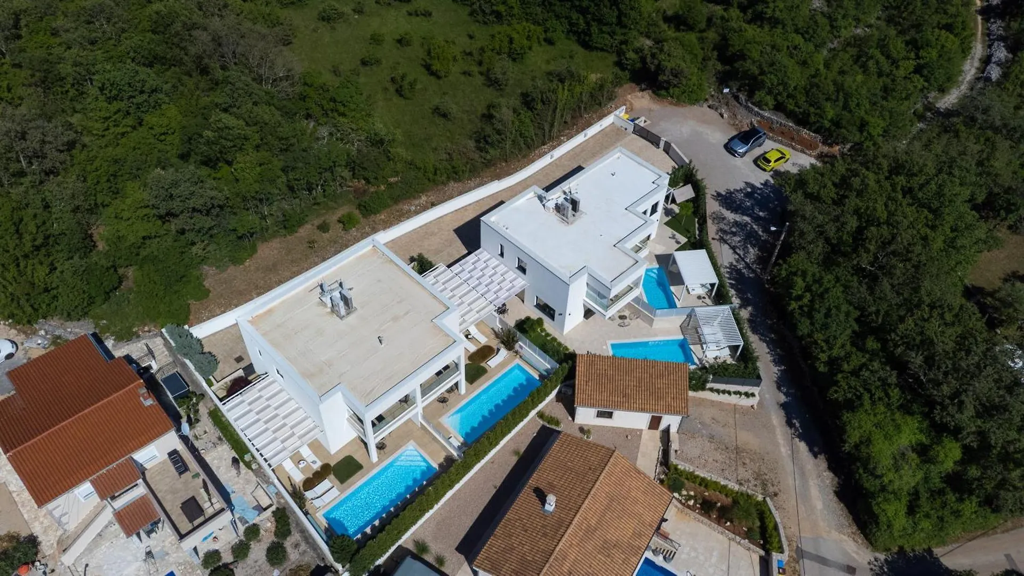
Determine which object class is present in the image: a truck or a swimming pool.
swimming pool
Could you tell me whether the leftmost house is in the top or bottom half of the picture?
bottom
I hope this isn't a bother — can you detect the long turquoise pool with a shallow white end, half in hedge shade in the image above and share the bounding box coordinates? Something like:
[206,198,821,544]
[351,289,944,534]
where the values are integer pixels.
[436,356,540,448]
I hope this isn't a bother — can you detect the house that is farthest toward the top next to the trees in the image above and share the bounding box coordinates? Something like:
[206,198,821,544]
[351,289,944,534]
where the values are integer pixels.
[481,146,669,335]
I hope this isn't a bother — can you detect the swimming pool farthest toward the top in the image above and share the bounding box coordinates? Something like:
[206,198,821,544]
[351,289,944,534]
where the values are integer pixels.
[638,263,680,312]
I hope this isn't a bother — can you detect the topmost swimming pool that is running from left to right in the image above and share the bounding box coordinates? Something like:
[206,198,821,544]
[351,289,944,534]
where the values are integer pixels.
[606,334,698,368]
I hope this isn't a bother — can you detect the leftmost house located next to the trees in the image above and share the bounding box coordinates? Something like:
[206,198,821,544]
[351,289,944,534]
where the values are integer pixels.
[0,335,237,557]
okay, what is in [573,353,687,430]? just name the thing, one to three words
shed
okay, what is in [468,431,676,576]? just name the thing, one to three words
house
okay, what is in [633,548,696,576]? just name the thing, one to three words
swimming pool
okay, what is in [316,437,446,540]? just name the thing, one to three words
swimming pool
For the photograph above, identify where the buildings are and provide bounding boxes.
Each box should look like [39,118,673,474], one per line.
[468,431,676,576]
[237,239,464,460]
[573,353,687,430]
[481,146,669,335]
[0,335,237,557]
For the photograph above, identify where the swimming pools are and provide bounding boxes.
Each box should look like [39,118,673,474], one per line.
[638,263,680,312]
[436,356,540,448]
[633,548,696,576]
[316,437,446,540]
[153,566,182,576]
[606,334,698,368]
